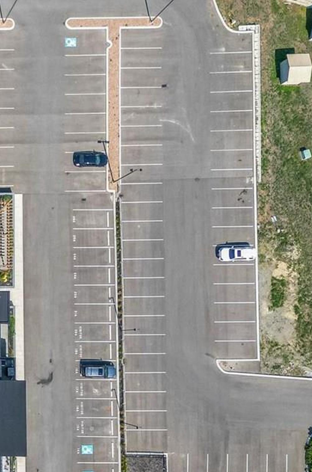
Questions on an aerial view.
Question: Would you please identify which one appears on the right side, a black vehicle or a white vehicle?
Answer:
white vehicle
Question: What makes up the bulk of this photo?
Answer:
paved ground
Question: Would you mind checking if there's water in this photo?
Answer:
No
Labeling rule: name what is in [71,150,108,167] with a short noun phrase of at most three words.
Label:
car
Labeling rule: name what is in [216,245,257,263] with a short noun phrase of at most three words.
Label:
car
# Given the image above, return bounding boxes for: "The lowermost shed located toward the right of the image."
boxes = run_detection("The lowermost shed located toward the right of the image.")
[278,54,312,88]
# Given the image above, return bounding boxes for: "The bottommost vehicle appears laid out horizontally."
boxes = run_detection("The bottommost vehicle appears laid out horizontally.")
[79,361,117,379]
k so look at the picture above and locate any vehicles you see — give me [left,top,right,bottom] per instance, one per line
[216,245,257,263]
[71,150,108,167]
[79,361,117,379]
